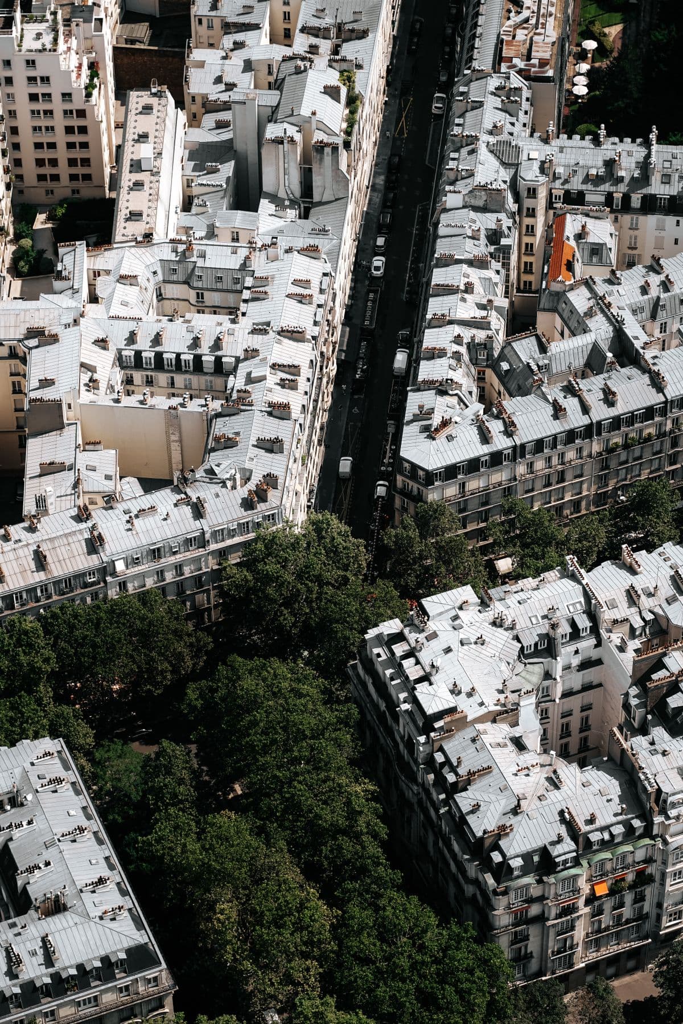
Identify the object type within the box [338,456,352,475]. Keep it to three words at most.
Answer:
vehicle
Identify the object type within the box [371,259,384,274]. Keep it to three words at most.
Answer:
vehicle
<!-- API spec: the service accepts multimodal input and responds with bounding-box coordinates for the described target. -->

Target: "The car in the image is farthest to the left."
[11,482,25,501]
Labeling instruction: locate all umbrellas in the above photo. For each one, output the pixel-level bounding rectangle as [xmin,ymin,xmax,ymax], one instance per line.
[573,78,588,88]
[575,66,590,73]
[582,42,596,50]
[572,88,587,96]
